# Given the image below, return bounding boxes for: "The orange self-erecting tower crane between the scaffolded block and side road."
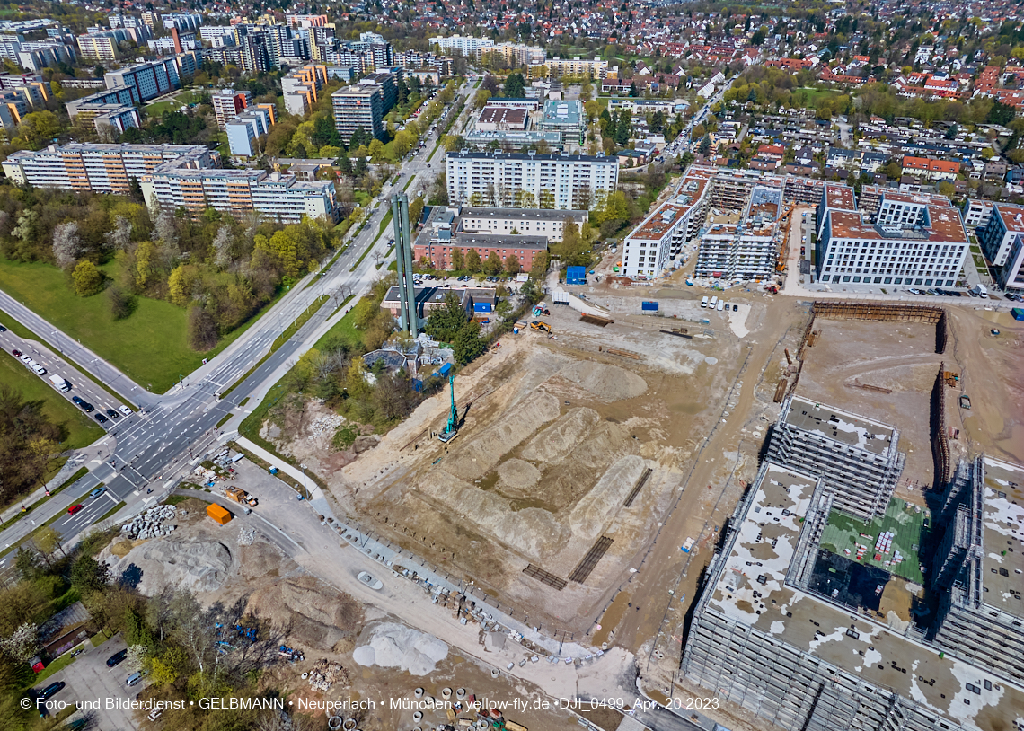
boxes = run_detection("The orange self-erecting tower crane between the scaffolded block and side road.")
[761,193,795,268]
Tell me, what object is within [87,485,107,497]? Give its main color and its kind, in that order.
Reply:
blue vehicle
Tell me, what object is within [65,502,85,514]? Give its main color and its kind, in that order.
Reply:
red vehicle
